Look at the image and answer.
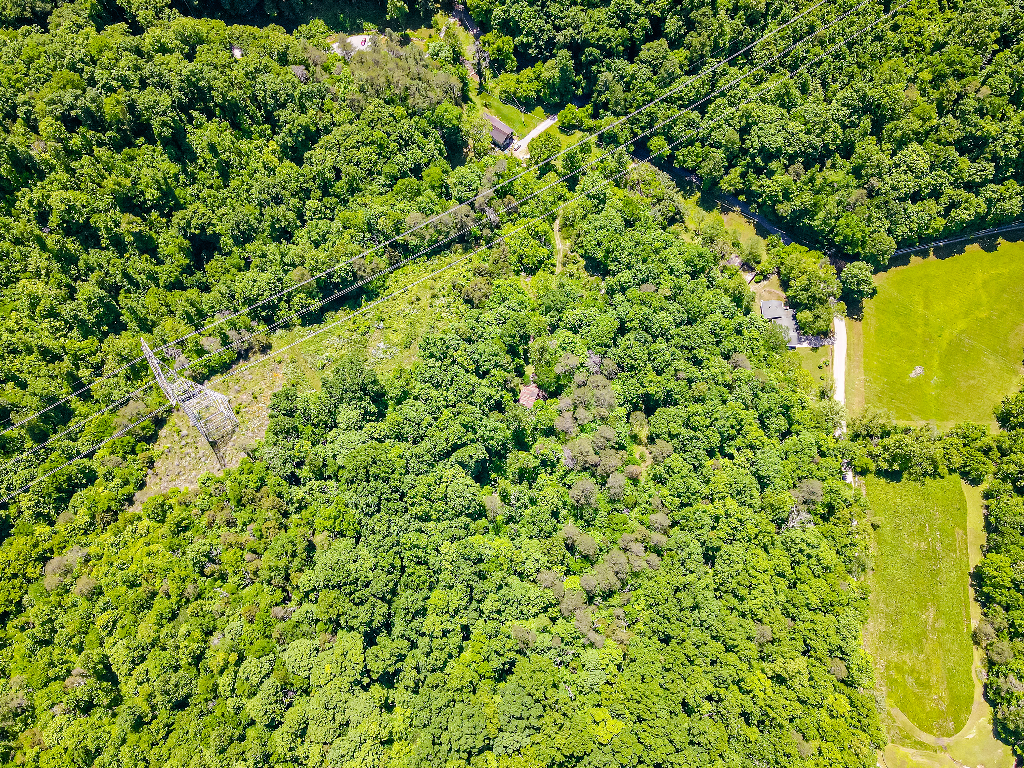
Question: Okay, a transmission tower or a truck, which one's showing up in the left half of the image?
transmission tower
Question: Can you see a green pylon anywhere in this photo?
No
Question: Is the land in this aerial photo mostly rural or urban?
rural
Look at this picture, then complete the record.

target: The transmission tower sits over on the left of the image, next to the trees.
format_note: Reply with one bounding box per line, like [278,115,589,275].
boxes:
[143,349,237,439]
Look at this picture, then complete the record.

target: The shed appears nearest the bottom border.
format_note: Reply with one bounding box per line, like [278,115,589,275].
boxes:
[517,383,541,409]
